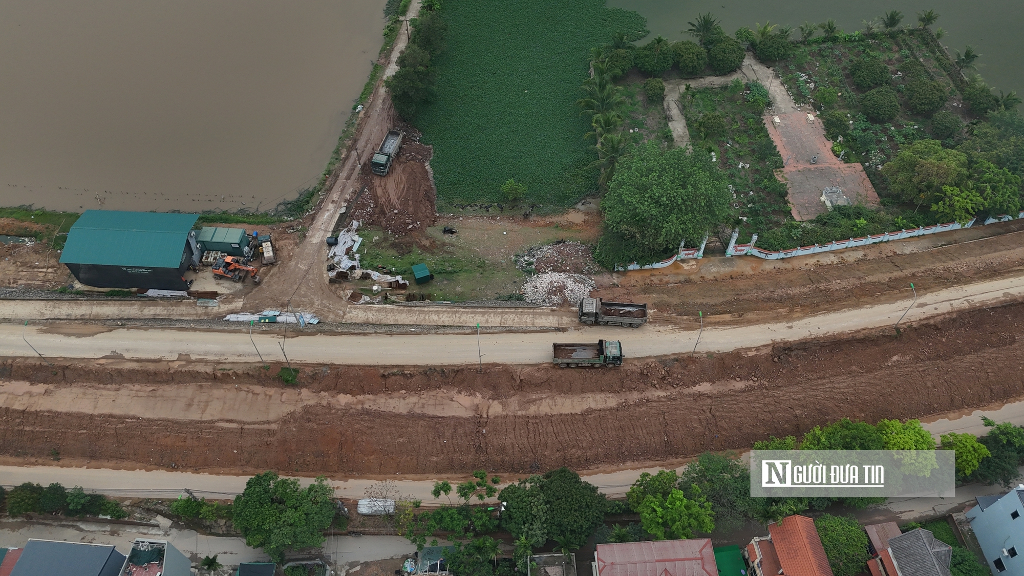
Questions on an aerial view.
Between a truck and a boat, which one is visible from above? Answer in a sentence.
It is a truck that can be seen here.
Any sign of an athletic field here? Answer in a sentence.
No, there isn't any athletic field down there.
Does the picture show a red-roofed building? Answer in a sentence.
Yes, this view includes a red-roofed building.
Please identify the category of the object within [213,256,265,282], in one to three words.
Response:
work vehicle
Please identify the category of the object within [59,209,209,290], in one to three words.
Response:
building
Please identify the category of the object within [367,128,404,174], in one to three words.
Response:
truck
